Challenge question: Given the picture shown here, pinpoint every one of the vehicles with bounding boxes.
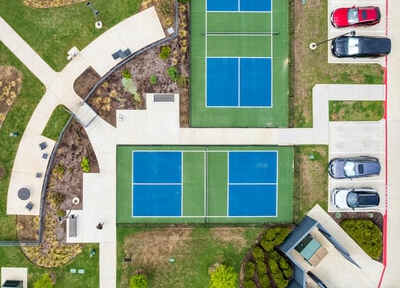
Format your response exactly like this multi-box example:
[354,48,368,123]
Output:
[327,5,382,30]
[328,188,382,213]
[325,156,382,181]
[328,34,392,60]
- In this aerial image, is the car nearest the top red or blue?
red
